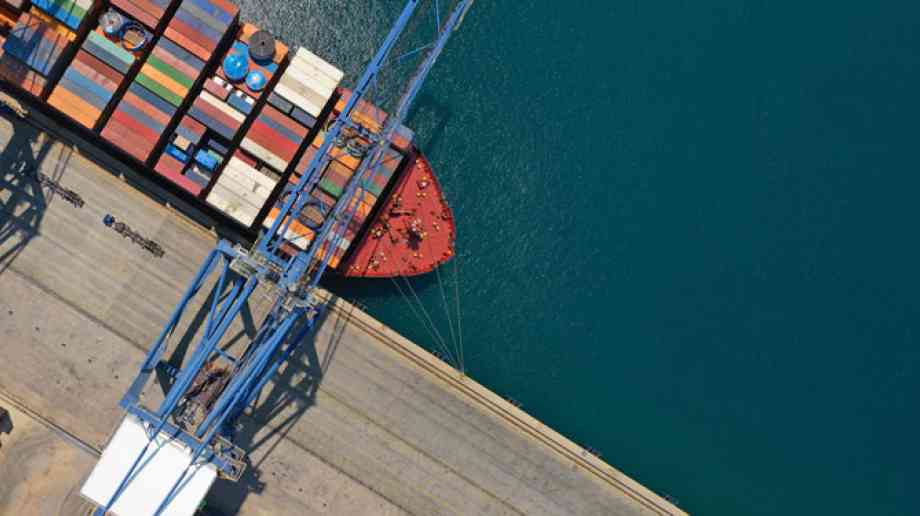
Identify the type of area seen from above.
port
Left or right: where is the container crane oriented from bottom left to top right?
left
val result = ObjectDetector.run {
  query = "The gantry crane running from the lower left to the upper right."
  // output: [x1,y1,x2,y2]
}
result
[79,0,475,516]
